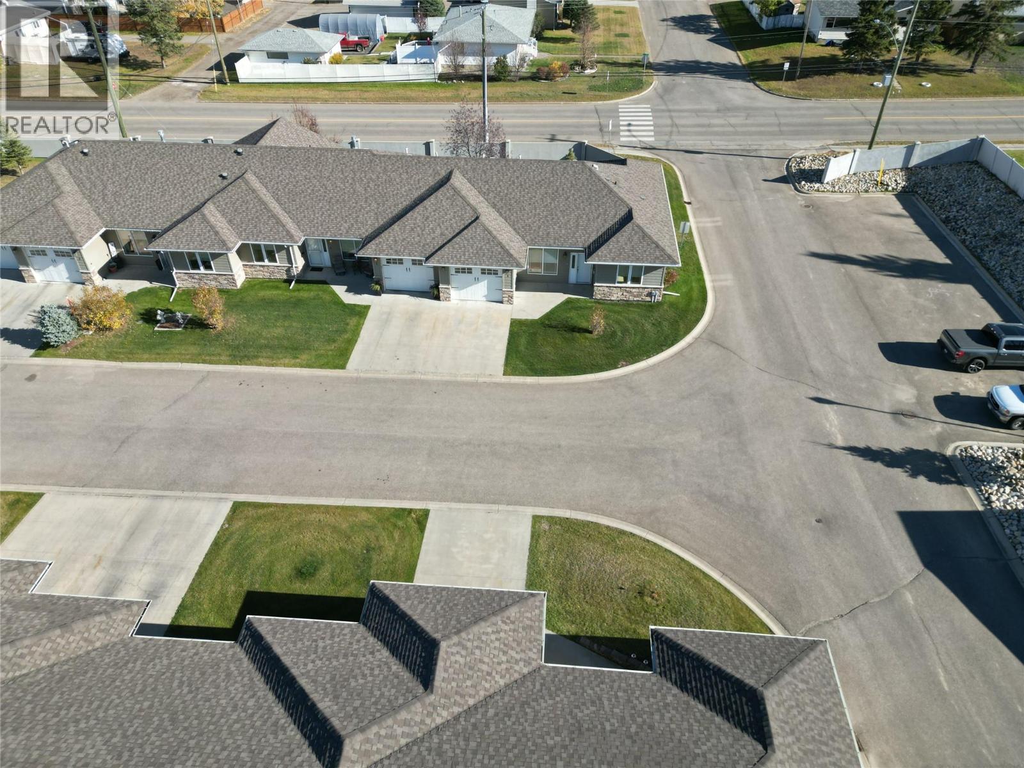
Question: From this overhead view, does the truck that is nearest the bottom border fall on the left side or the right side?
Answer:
right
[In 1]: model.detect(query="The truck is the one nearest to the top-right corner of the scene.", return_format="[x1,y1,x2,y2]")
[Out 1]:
[936,318,1024,371]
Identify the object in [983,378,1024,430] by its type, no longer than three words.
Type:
truck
